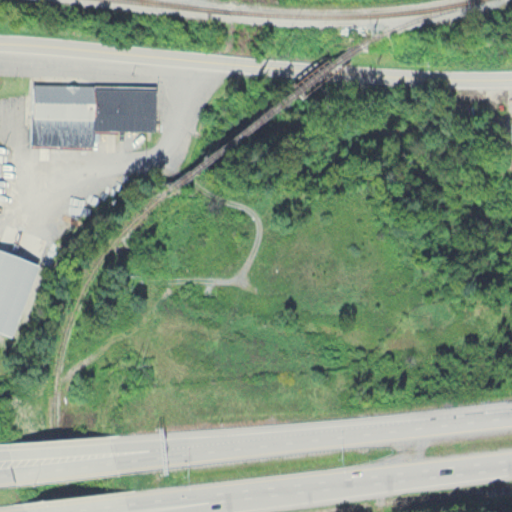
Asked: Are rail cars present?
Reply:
No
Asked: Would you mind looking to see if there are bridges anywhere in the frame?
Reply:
Yes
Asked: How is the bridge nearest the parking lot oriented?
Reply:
diagonally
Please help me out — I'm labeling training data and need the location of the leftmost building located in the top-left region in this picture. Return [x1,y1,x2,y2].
[34,84,97,148]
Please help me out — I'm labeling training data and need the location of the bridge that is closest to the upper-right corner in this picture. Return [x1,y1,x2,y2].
[170,42,369,189]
